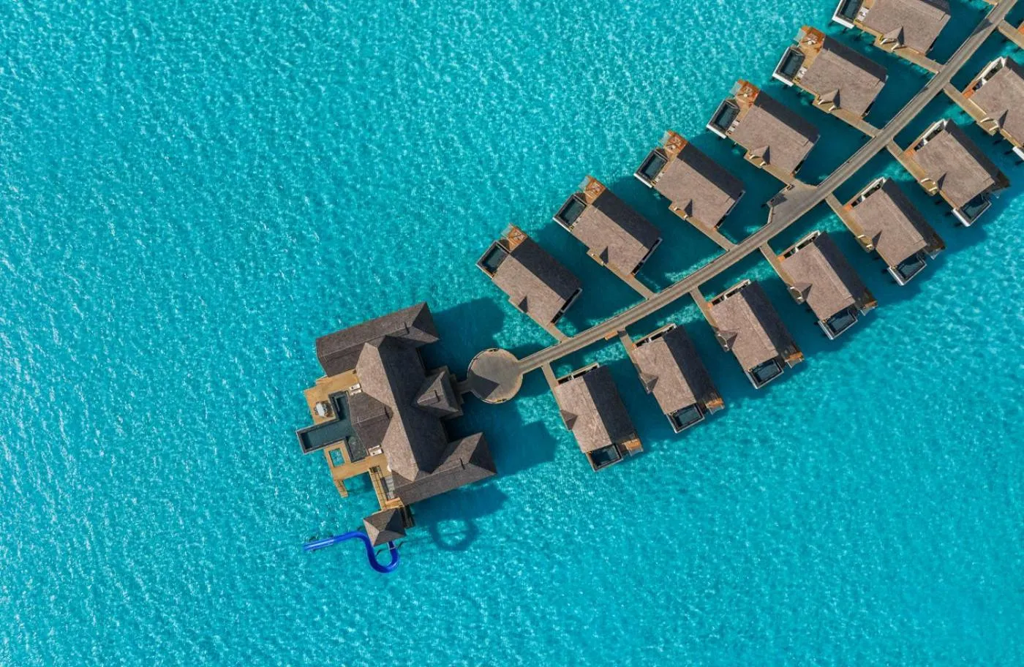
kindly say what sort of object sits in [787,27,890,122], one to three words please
house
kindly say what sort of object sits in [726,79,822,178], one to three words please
house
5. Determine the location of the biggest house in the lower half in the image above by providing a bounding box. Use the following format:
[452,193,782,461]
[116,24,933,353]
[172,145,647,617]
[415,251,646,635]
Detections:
[305,302,496,511]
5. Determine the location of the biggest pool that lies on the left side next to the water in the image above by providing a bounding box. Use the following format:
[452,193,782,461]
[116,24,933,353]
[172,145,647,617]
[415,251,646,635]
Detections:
[296,387,373,463]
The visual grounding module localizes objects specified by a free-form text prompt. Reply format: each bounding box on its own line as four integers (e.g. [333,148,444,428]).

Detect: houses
[652,130,747,232]
[305,302,496,511]
[903,116,1009,226]
[493,222,586,326]
[571,175,665,278]
[842,174,944,272]
[847,0,954,58]
[787,27,890,122]
[706,275,801,370]
[726,79,822,178]
[630,319,722,416]
[554,357,643,456]
[960,59,1024,157]
[775,227,875,321]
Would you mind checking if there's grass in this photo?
No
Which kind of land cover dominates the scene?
water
